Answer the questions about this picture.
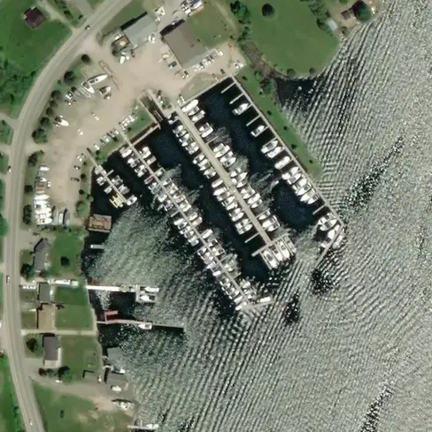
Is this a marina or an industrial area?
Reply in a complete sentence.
The picture captures a marina.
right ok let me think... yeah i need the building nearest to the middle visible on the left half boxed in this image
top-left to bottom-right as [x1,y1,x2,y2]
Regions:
[88,211,113,232]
